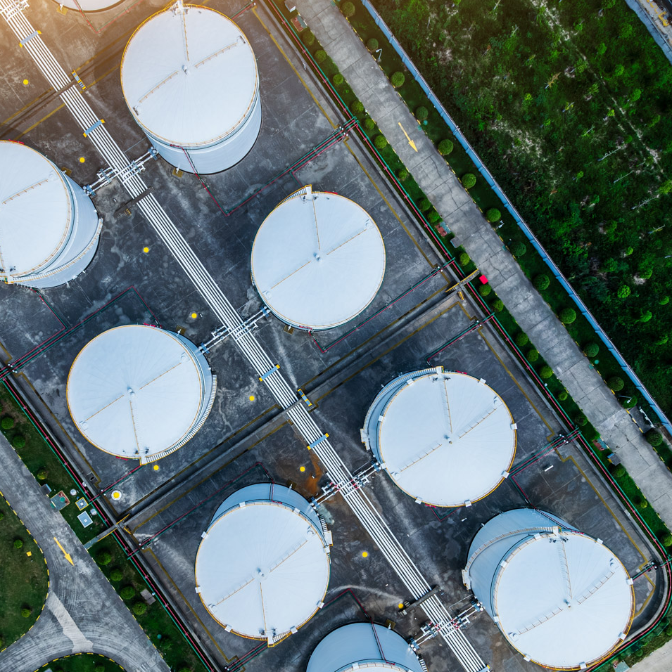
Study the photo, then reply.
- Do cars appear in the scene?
No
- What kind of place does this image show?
industrial area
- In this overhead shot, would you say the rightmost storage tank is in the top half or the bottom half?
bottom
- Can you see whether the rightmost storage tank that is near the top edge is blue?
No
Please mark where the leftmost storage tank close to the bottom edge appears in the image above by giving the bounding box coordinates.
[192,477,334,650]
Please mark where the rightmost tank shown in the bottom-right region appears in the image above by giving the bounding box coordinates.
[463,506,636,671]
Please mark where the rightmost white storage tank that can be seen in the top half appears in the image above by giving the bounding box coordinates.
[248,180,388,338]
